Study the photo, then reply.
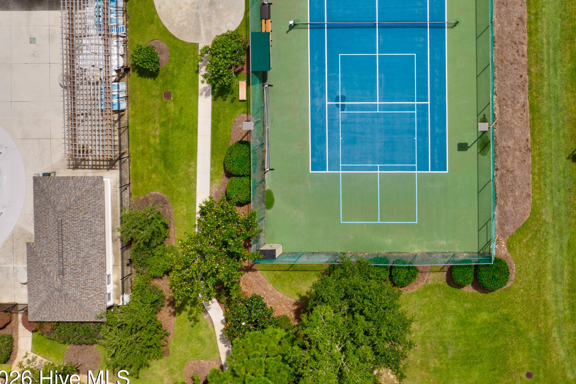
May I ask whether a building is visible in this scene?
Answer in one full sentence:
Yes, I can see a building in this picture.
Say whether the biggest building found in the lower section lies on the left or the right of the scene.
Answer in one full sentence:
The biggest building found in the lower section sits on the left side.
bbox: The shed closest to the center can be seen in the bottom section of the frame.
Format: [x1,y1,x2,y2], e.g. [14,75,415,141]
[256,244,282,260]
